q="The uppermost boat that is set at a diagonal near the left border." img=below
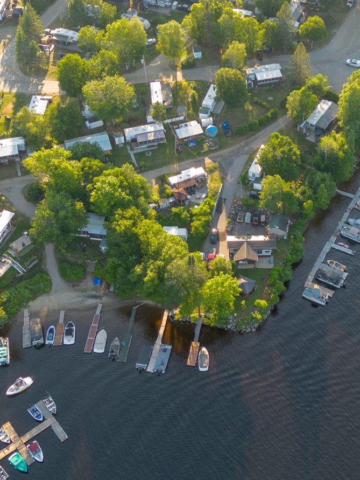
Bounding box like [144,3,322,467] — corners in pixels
[7,374,37,395]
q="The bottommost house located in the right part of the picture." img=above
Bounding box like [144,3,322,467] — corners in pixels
[228,235,276,271]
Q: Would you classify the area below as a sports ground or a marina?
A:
marina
